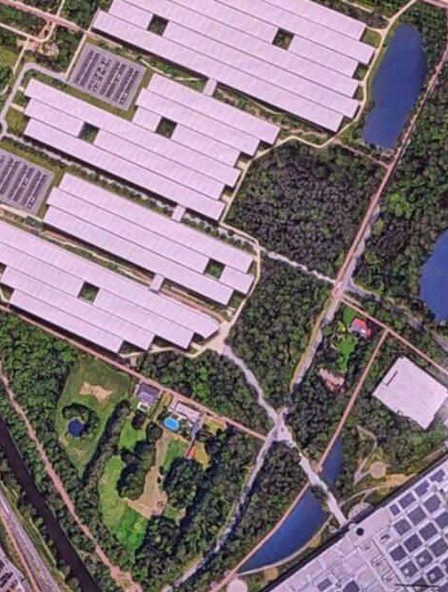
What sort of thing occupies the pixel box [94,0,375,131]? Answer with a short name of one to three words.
building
